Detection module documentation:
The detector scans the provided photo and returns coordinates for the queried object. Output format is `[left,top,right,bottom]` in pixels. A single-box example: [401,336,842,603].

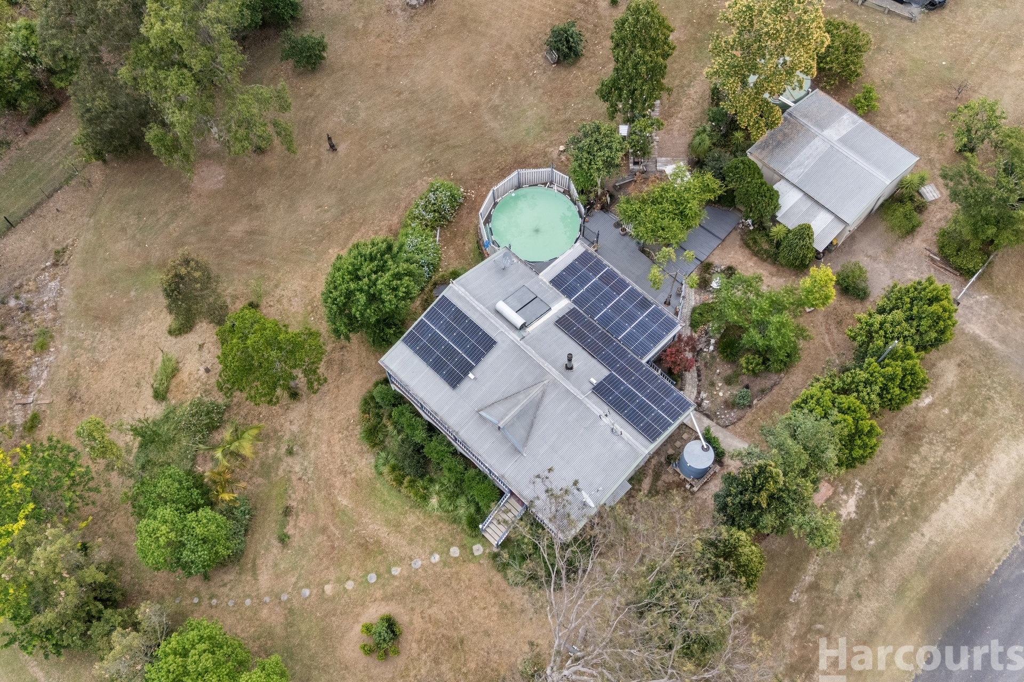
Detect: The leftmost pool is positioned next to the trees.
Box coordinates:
[489,185,582,269]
